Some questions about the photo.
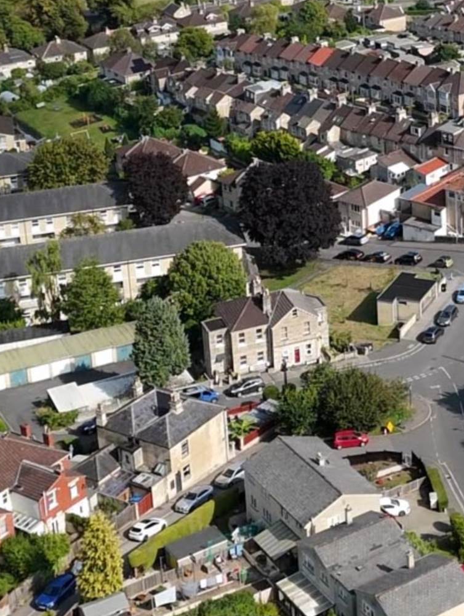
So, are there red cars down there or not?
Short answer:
Yes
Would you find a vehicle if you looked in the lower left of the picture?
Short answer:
Yes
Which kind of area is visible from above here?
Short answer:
residential area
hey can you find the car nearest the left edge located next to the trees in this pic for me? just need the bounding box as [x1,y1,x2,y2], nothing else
[35,571,77,607]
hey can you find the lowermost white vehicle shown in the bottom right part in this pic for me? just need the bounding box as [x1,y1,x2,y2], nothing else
[381,493,414,517]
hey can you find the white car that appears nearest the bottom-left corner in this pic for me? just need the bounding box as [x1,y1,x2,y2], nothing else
[127,514,169,541]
